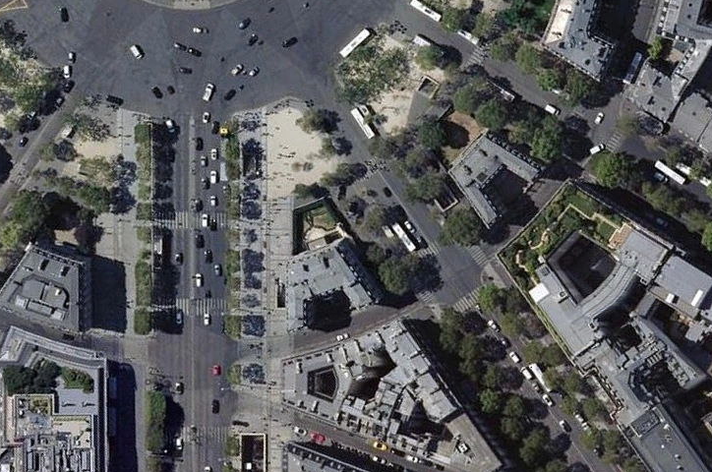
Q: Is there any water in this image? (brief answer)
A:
No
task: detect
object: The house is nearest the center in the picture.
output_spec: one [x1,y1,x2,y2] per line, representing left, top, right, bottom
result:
[287,234,384,332]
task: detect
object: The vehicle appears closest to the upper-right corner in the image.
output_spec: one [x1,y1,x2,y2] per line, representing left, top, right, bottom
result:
[625,51,643,84]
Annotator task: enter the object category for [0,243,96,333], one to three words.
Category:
house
